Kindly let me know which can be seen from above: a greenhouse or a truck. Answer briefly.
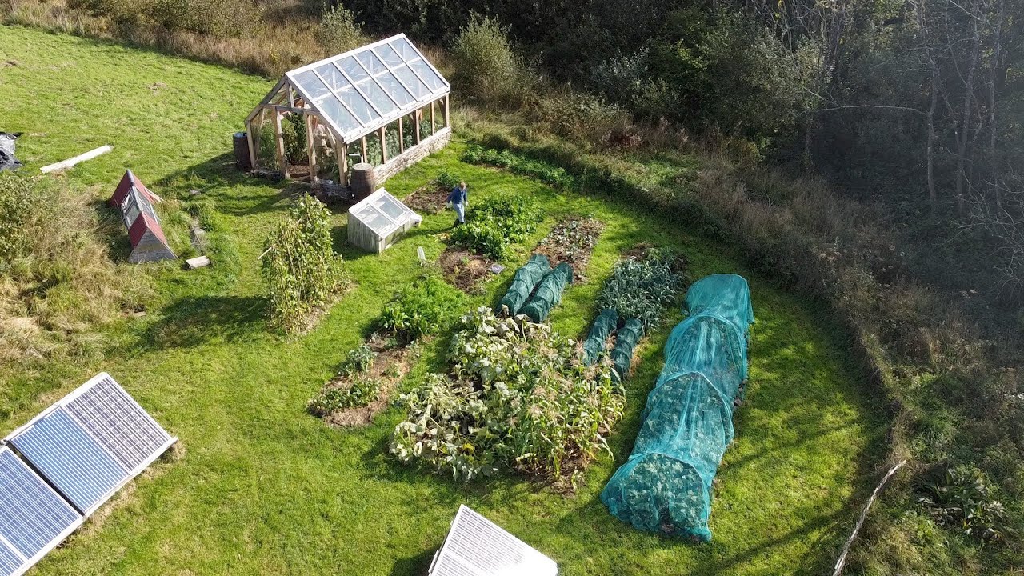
greenhouse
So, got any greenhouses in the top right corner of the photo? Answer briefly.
No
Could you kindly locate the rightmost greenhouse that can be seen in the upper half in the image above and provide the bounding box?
[239,33,458,190]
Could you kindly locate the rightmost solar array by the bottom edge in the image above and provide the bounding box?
[426,504,557,576]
